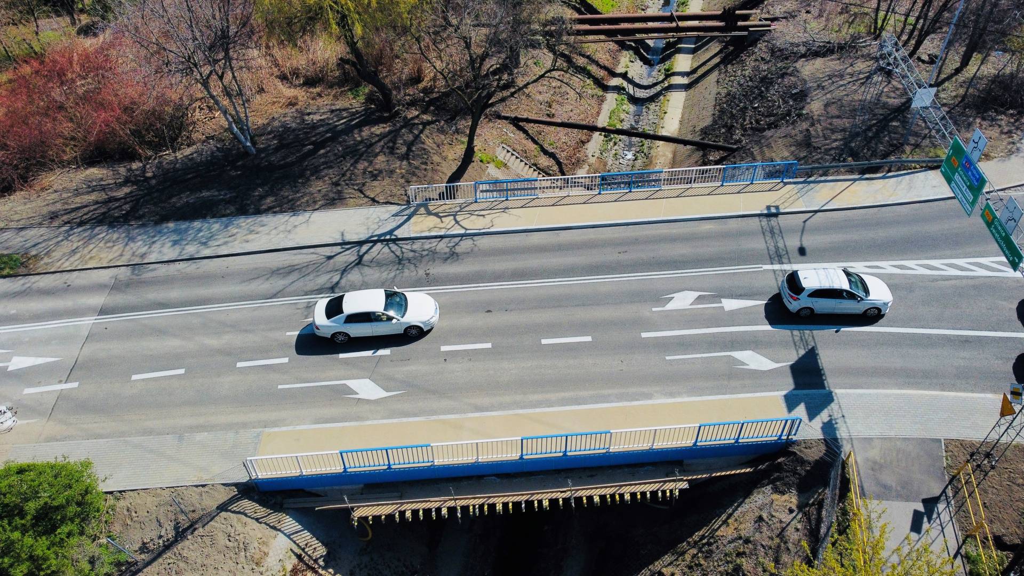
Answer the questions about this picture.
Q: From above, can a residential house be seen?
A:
No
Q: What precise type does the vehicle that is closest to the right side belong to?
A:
automobile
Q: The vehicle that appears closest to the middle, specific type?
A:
car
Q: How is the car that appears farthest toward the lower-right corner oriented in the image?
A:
from side to side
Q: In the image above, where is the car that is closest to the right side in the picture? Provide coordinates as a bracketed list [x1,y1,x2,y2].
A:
[783,264,893,316]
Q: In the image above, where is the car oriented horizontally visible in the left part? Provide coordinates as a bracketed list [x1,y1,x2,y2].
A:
[313,284,438,342]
